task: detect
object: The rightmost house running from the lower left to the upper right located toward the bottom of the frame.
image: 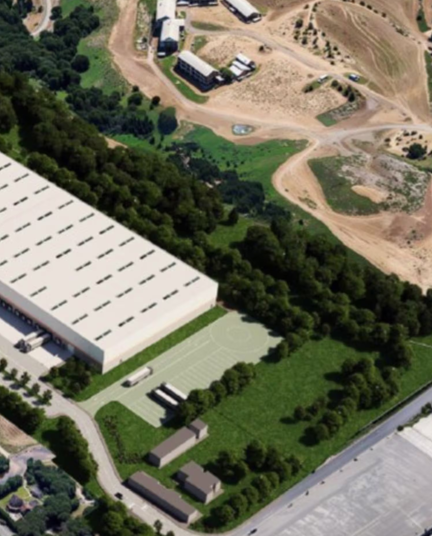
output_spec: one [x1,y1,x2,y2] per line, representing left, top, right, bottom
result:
[149,414,213,468]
